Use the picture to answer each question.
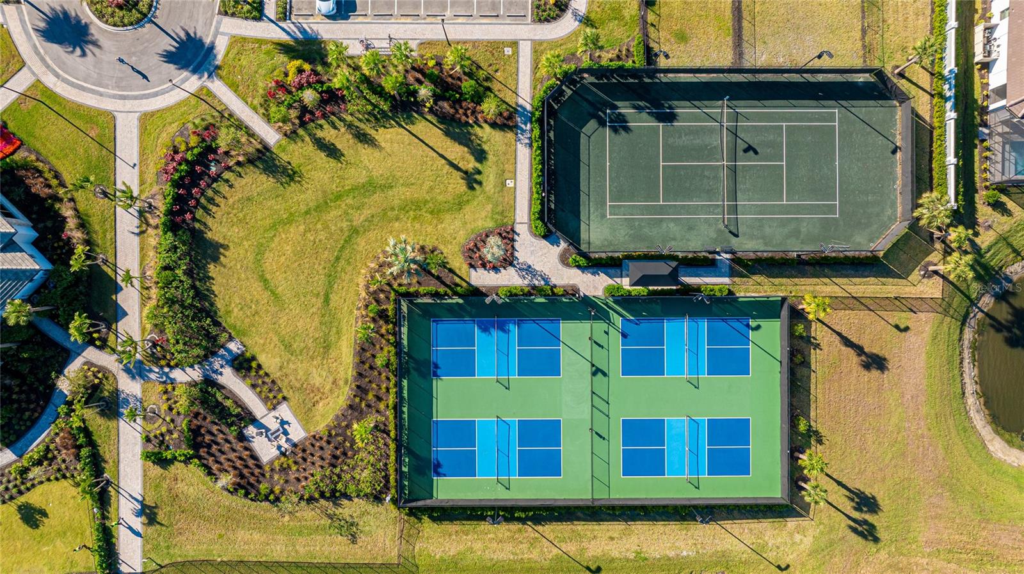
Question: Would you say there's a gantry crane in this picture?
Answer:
No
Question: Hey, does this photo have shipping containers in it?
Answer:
No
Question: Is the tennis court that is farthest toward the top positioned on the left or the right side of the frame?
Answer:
right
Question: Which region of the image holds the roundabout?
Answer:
top left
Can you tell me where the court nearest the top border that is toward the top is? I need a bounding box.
[545,76,896,252]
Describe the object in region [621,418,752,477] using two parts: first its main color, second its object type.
blue sports court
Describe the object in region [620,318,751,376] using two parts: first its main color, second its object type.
blue sports court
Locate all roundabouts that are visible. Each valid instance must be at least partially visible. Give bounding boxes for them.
[1,0,237,112]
